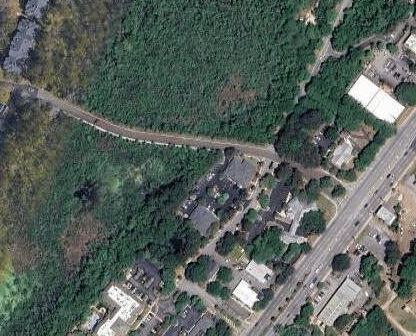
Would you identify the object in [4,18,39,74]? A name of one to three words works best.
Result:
building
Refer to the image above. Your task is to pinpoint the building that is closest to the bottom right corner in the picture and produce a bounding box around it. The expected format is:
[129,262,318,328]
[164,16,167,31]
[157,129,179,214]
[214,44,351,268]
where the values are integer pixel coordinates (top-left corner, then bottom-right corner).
[318,277,361,326]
